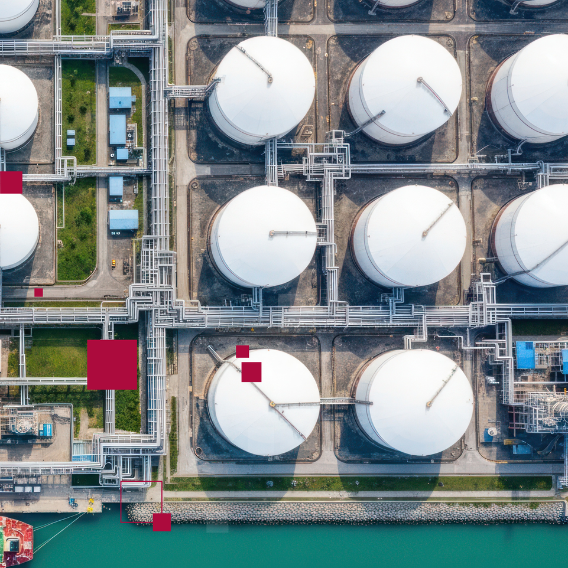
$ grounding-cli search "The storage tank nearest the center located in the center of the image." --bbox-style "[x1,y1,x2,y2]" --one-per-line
[199,183,318,298]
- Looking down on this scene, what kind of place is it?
industrial area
